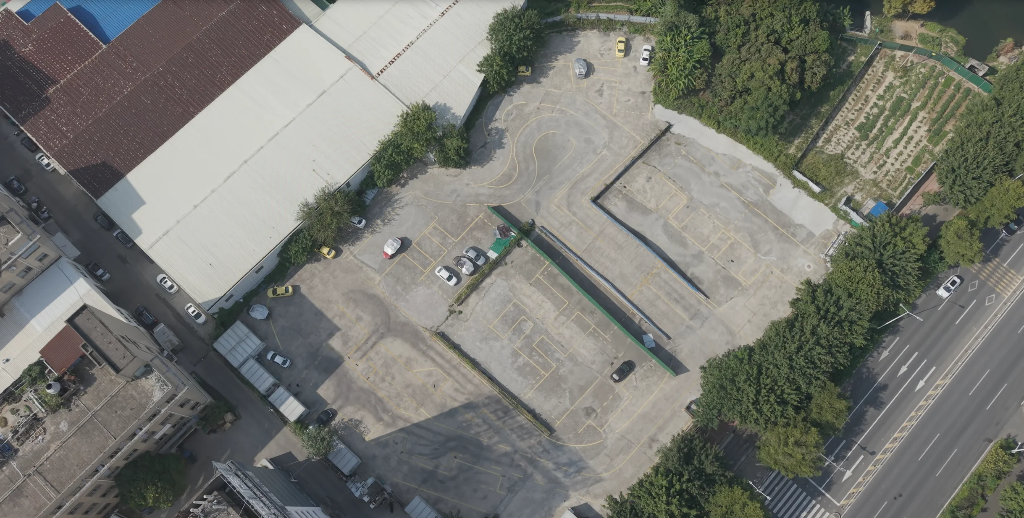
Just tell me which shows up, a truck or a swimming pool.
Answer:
truck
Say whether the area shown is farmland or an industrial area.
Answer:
industrial area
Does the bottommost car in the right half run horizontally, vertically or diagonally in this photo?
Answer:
diagonally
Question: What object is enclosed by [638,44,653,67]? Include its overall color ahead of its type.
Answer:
white car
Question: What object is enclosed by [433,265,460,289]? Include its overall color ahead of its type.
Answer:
white car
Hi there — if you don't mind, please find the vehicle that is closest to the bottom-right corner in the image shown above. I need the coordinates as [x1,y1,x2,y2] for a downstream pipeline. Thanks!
[936,273,964,298]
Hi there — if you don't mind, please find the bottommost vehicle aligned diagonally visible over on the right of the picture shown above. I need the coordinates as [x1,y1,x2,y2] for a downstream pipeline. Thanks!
[608,358,636,384]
